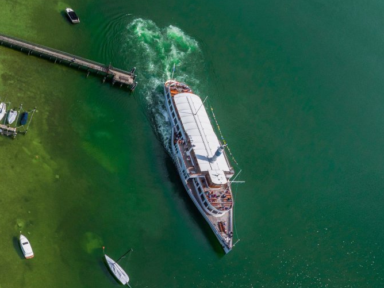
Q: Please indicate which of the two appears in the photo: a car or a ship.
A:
ship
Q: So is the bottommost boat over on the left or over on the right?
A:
left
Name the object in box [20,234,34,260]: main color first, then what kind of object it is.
white boat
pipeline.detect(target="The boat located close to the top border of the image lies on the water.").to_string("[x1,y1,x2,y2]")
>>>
[66,8,82,25]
